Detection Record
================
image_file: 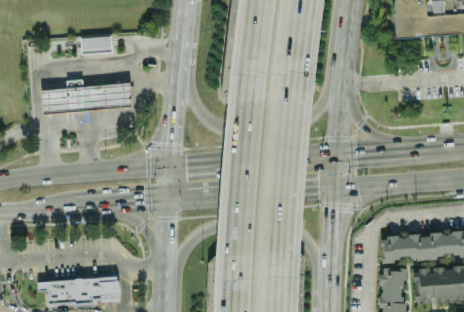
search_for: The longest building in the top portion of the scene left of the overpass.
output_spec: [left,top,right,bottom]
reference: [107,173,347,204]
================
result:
[42,79,132,116]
